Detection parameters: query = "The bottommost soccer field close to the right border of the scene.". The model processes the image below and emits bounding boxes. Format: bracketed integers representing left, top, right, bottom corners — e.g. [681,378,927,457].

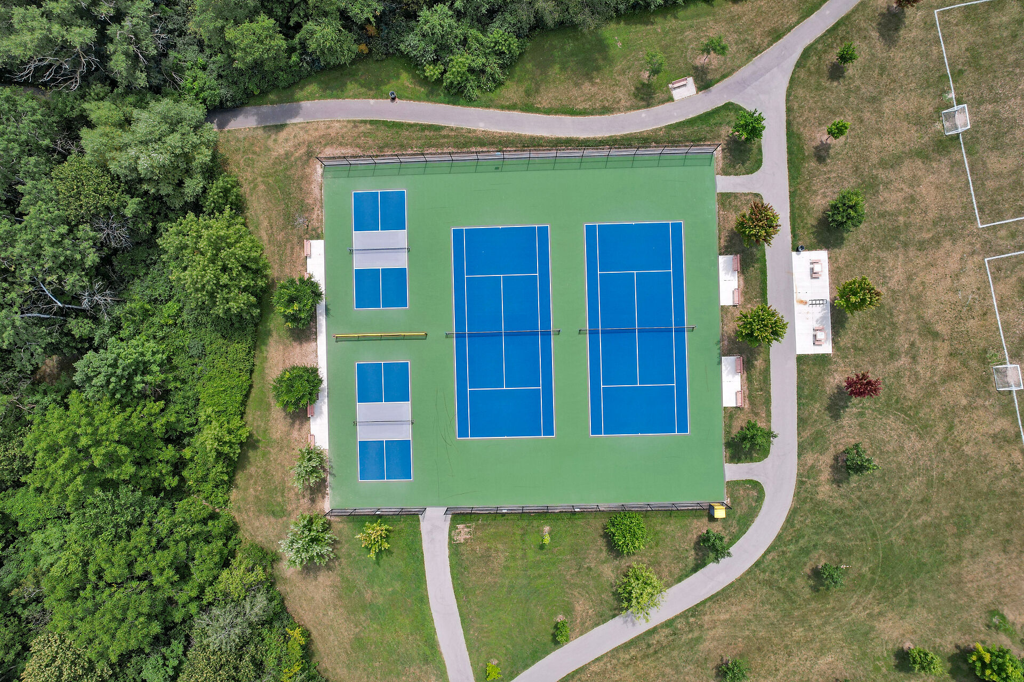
[986,251,1024,445]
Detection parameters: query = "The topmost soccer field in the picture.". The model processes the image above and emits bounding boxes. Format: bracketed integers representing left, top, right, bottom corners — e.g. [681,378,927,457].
[935,0,1024,227]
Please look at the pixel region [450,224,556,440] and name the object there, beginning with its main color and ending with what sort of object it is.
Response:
blue tennis court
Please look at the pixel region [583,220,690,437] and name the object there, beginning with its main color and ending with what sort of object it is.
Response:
blue tennis court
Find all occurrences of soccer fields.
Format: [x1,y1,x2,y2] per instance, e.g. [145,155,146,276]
[986,251,1024,445]
[935,0,1024,227]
